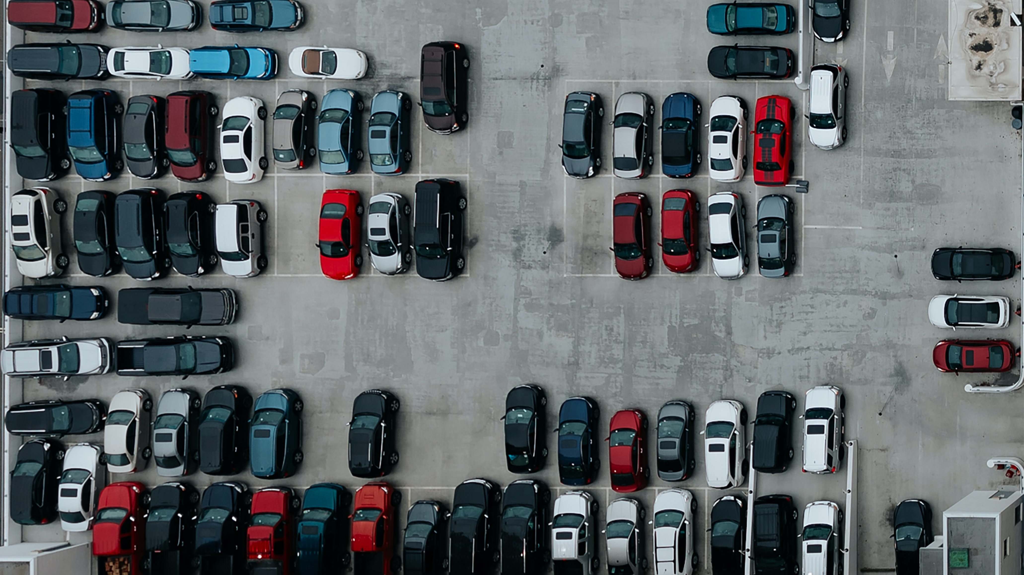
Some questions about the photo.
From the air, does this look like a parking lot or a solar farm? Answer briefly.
parking lot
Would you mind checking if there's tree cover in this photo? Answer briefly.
No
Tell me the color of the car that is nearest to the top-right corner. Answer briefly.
black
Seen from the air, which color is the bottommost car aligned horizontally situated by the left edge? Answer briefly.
black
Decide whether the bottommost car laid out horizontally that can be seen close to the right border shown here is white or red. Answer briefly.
red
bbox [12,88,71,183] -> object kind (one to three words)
car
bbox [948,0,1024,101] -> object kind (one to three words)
shed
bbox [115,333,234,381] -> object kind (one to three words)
truck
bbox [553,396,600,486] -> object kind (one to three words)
car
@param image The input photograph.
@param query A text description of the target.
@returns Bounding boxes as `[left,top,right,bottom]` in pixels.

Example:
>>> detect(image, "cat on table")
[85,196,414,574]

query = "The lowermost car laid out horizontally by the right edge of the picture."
[933,336,1015,377]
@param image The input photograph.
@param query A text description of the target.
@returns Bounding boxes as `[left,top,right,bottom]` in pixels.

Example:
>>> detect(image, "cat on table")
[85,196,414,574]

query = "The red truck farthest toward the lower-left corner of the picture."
[94,481,151,575]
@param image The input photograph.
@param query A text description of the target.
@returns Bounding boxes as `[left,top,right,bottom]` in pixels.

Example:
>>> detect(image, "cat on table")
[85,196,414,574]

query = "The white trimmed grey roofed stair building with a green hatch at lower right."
[943,491,1024,575]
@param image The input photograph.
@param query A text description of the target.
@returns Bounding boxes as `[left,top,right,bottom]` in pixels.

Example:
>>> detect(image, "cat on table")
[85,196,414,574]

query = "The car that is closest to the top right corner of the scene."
[808,0,850,43]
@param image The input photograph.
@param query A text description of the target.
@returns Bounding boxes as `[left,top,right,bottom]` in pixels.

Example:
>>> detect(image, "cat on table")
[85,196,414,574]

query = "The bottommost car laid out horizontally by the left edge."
[5,397,107,443]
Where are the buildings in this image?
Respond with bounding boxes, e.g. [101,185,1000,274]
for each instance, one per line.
[943,491,1024,575]
[0,542,89,575]
[948,0,1024,101]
